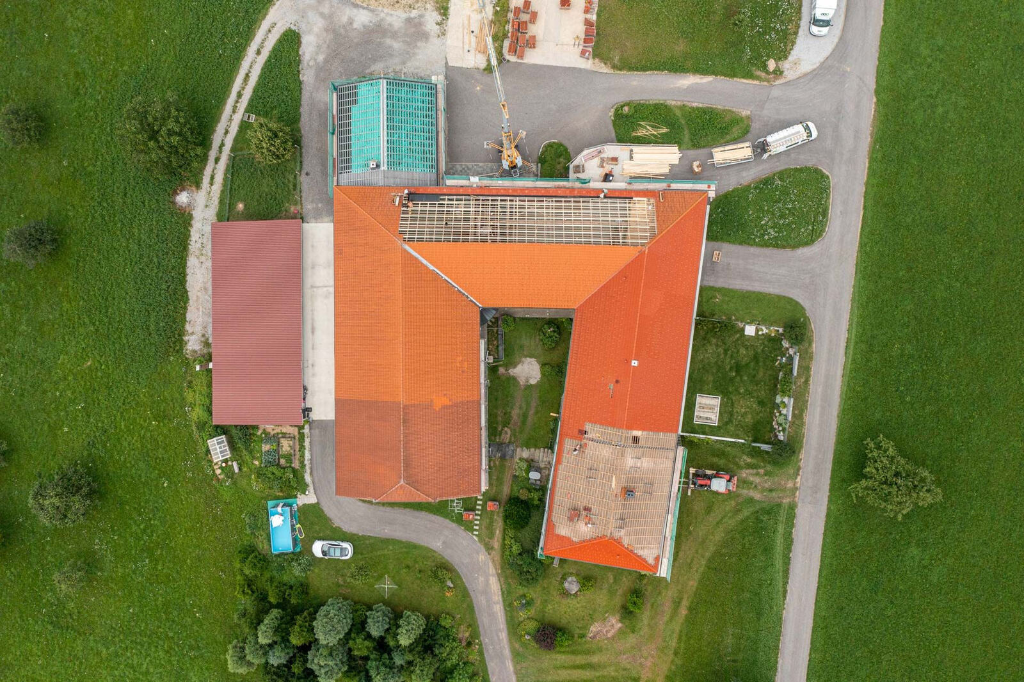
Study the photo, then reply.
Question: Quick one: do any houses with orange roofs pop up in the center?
Yes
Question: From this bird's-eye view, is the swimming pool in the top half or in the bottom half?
bottom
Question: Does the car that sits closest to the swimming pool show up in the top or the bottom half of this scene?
bottom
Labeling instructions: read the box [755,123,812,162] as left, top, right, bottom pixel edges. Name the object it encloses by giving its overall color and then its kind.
white van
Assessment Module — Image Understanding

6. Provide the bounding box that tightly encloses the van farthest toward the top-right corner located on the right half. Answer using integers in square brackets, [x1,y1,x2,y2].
[809,0,839,40]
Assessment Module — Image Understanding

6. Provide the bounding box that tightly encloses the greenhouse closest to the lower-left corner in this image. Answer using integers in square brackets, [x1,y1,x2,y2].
[208,434,237,462]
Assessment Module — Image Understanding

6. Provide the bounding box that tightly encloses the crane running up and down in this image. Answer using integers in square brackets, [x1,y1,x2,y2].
[478,0,537,178]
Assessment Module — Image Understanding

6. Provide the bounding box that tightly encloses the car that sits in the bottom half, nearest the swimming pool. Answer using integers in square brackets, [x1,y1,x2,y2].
[313,540,353,561]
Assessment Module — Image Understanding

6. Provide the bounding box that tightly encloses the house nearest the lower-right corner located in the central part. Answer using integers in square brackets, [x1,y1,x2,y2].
[332,184,712,575]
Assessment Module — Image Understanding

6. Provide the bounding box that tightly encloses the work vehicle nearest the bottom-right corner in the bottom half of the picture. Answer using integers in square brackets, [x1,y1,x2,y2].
[695,471,736,493]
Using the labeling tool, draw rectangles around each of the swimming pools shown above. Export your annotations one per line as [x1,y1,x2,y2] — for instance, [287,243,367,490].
[269,503,296,552]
